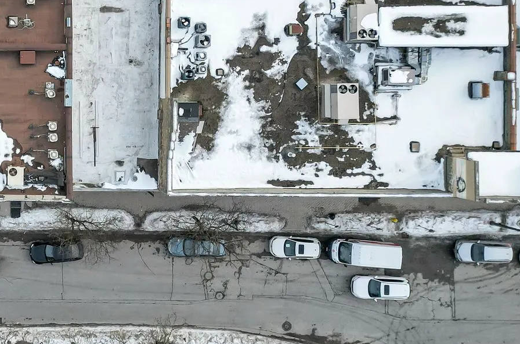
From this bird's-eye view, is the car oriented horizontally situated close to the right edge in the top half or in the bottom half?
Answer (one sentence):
The bottom half of the photo is where the car oriented horizontally situated close to the right edge is.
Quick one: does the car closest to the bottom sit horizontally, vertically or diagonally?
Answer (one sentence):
Seen from above, the car closest to the bottom lies horizontally.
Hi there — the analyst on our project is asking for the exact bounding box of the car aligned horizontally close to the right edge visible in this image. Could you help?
[451,238,515,266]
